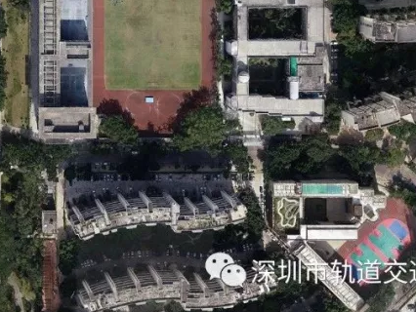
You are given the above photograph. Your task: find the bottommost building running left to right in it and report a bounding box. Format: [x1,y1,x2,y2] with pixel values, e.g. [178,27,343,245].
[79,257,274,312]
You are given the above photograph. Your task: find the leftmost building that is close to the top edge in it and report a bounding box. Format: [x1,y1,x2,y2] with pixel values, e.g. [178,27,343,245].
[37,0,93,109]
